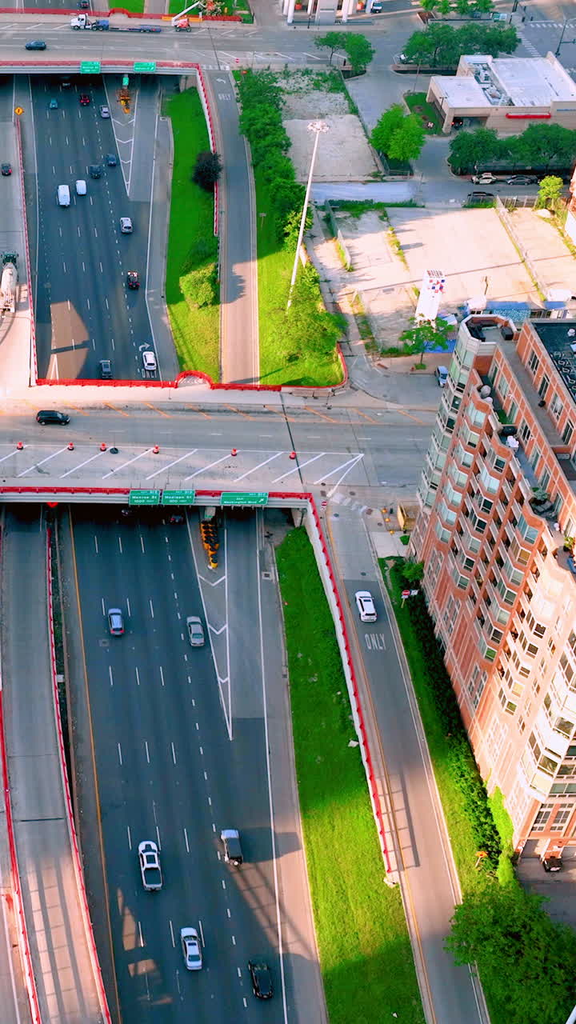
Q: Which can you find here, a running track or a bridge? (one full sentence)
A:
The image shows a bridge.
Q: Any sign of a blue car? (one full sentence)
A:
Yes, there's a blue car down there.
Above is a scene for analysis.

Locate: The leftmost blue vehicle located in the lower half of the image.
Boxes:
[107,605,126,636]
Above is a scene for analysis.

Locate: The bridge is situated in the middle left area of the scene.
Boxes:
[0,366,311,523]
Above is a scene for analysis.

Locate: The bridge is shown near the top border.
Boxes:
[0,6,264,98]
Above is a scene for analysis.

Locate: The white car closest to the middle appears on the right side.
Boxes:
[354,588,380,621]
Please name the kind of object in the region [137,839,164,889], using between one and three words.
truck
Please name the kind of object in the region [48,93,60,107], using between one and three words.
vehicle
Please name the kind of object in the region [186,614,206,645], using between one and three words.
car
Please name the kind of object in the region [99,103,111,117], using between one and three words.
vehicle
